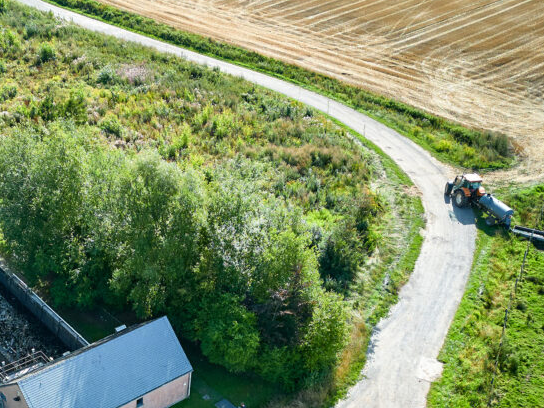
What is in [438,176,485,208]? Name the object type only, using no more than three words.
work vehicle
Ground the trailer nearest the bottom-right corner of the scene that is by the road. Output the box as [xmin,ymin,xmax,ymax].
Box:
[478,188,518,226]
